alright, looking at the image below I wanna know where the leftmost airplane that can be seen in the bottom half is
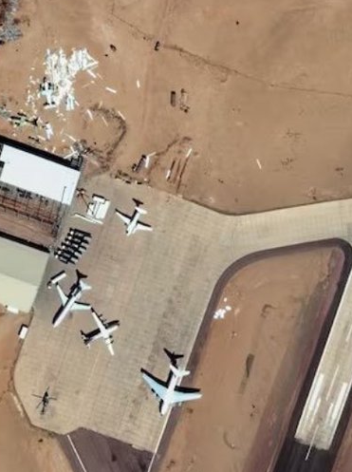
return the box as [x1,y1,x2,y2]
[53,281,91,327]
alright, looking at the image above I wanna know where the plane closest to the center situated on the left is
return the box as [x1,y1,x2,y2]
[115,206,153,235]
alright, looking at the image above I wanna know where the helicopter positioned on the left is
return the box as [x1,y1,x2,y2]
[33,389,57,415]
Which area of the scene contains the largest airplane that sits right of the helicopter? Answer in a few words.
bottom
